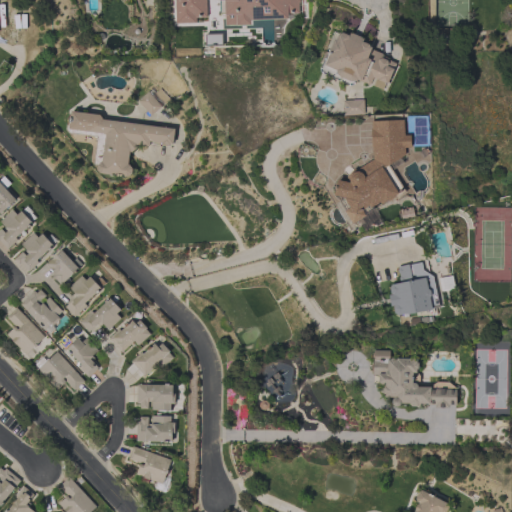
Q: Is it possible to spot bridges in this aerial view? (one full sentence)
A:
No, the photo shows no bridge.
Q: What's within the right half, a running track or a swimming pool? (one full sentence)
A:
You can see a swimming pool within the right half.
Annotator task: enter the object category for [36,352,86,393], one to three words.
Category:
house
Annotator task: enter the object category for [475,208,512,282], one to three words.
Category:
tennis court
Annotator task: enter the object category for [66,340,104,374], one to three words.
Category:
house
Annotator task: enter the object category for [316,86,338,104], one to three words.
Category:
swimming pool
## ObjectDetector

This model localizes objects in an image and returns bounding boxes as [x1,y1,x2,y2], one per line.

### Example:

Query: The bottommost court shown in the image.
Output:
[476,342,510,414]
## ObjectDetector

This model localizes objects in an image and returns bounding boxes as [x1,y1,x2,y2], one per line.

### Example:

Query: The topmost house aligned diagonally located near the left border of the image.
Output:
[0,206,36,249]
